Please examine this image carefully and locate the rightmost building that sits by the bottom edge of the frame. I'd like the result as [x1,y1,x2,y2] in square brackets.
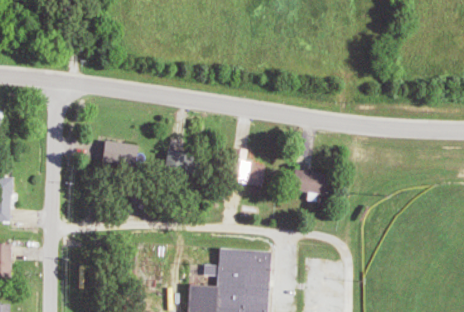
[188,249,272,312]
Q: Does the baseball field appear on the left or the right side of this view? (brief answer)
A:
right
